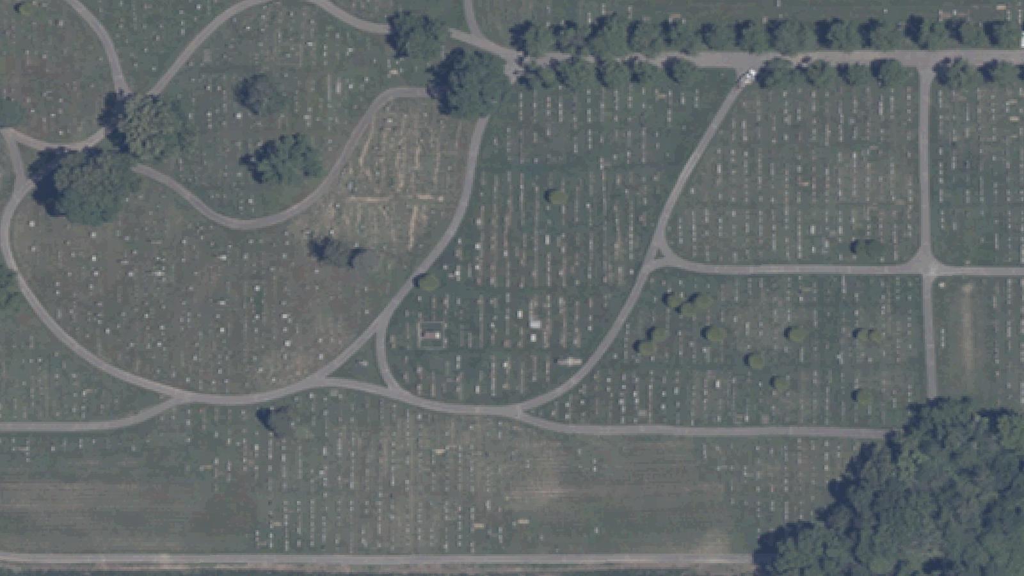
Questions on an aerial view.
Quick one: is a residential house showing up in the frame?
No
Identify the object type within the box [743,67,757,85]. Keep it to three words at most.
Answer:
vehicle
